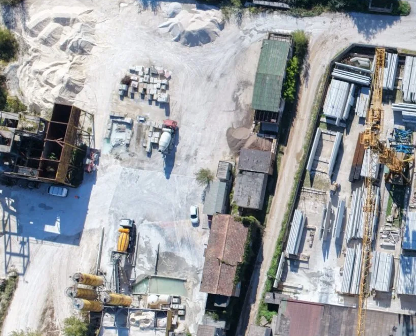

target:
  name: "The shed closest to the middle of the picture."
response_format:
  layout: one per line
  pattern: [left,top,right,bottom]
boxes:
[216,160,237,182]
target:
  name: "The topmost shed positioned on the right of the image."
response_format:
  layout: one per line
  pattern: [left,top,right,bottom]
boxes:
[252,32,297,131]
